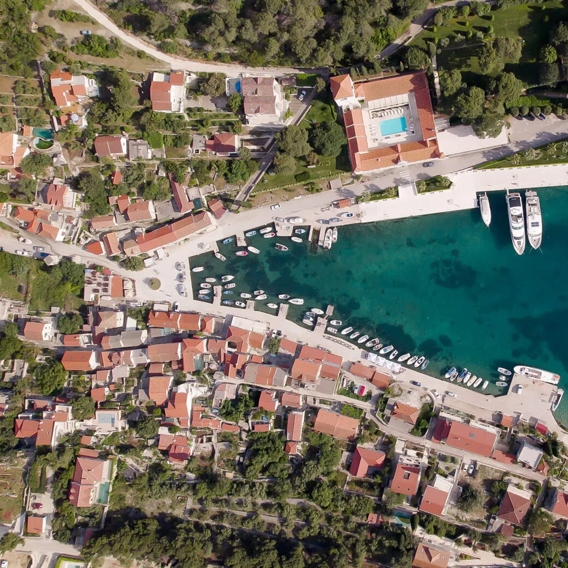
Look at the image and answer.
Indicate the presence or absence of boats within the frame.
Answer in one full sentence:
Yes, the image includes a boat.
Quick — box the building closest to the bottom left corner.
[23,513,47,536]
